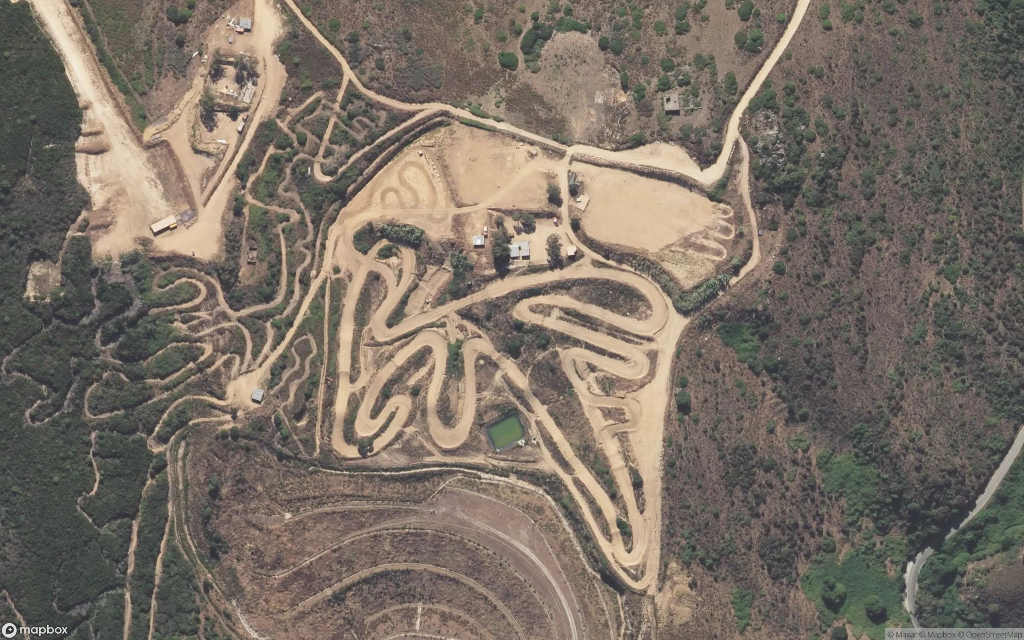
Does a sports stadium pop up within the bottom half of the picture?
No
